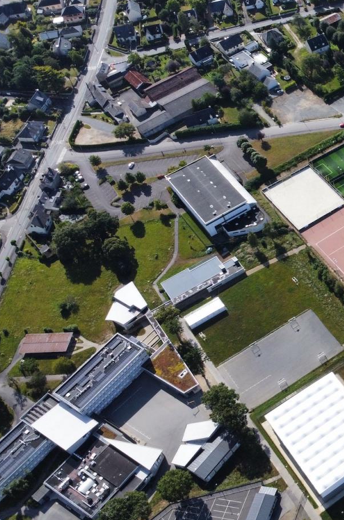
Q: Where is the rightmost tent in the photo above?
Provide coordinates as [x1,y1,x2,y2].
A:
[185,297,226,330]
